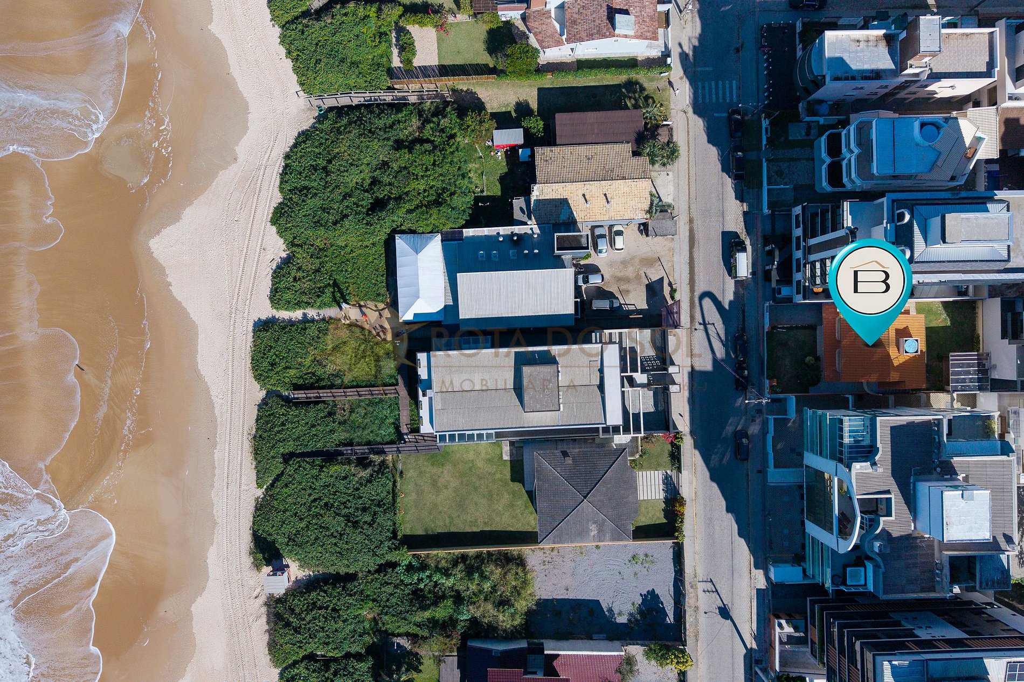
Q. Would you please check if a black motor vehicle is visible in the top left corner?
No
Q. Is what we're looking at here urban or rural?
urban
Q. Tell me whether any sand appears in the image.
Yes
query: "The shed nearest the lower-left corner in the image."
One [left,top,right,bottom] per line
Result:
[262,563,292,595]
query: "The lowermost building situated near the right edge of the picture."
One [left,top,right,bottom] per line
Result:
[804,593,1024,682]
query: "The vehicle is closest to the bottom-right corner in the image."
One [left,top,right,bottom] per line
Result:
[733,429,750,461]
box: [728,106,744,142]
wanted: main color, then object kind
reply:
black vehicle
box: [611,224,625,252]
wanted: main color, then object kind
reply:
white car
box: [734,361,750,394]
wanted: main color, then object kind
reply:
black vehicle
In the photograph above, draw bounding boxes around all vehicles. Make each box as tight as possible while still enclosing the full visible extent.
[611,224,625,252]
[733,333,749,362]
[734,361,750,394]
[770,284,791,298]
[592,226,608,258]
[730,237,749,280]
[733,429,750,461]
[575,272,604,286]
[590,297,621,311]
[788,0,825,10]
[728,106,744,142]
